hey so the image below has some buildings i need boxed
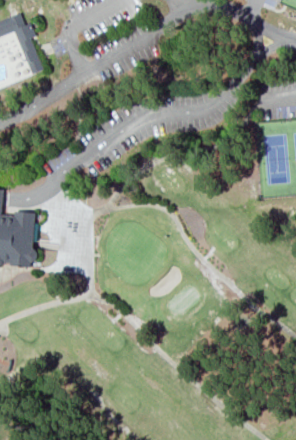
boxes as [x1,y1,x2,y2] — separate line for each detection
[0,190,42,270]
[0,12,43,73]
